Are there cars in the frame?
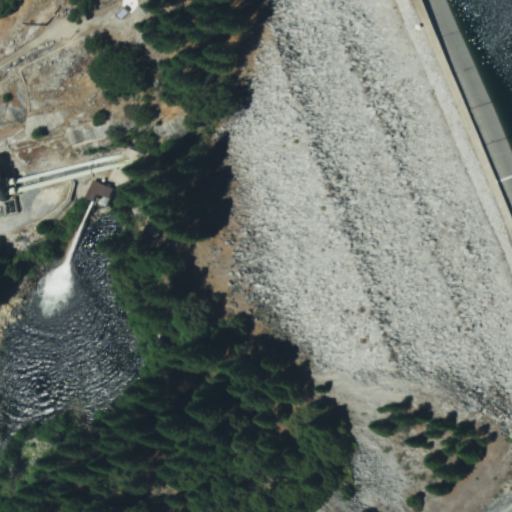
No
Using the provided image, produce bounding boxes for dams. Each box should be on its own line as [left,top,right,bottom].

[229,0,512,414]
